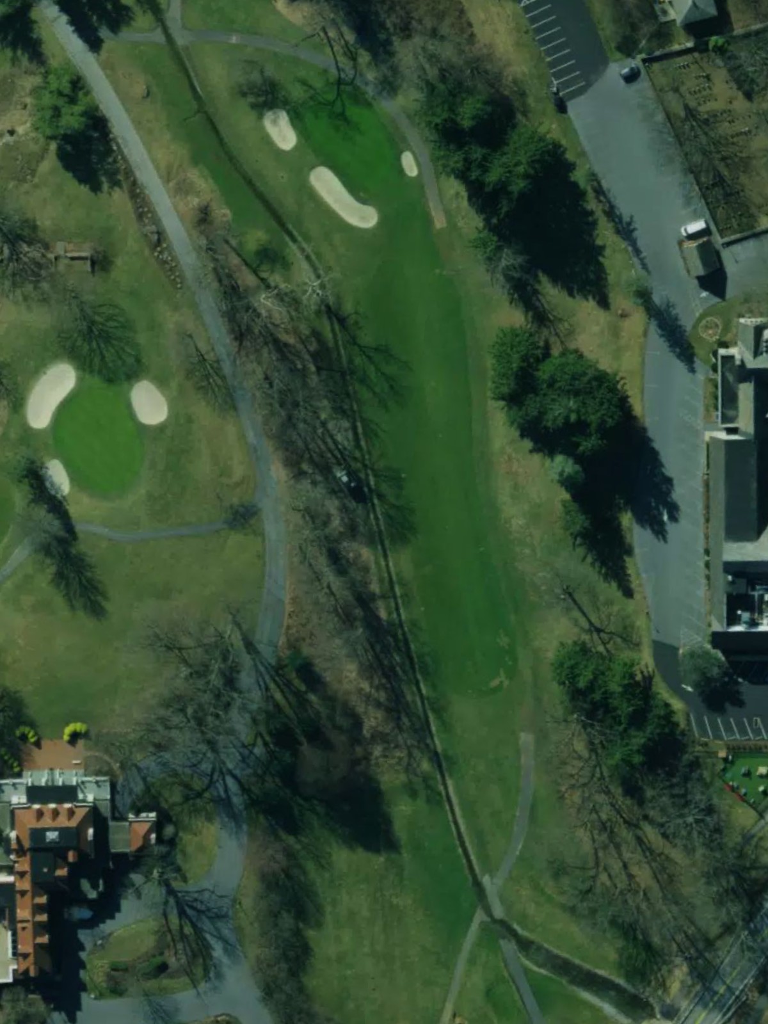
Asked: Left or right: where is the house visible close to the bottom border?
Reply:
left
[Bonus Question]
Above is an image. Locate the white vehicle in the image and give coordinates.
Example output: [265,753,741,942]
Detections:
[680,220,707,236]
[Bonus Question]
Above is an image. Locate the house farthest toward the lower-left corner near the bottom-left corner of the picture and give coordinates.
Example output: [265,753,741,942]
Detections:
[0,766,158,983]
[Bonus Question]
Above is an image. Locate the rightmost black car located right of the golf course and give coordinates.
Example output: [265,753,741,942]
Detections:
[620,66,641,78]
